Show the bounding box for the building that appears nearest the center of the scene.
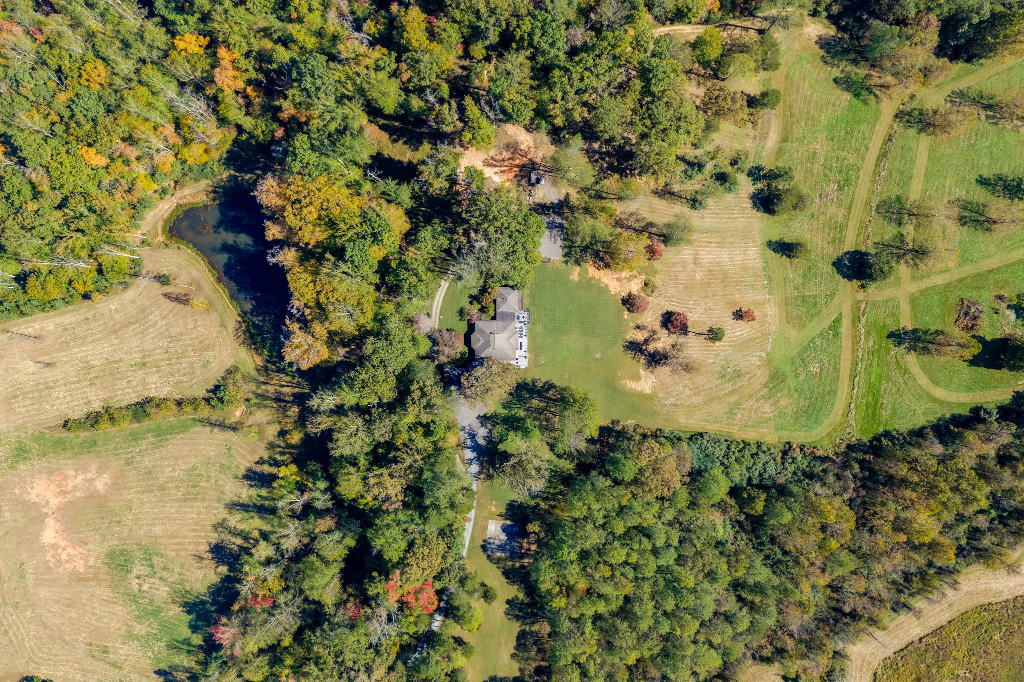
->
[471,287,519,361]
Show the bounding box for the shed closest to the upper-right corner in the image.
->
[541,216,564,259]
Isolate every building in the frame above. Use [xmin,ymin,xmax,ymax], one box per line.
[471,287,519,361]
[541,216,564,259]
